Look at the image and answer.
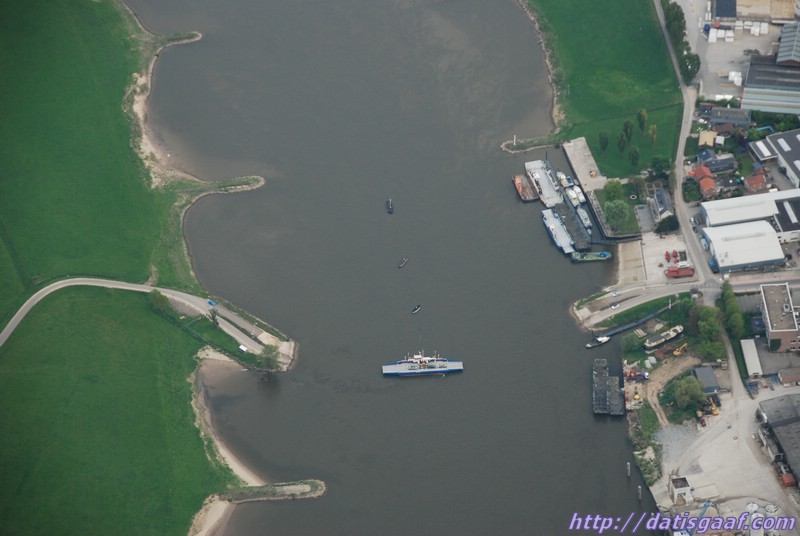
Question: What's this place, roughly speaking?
port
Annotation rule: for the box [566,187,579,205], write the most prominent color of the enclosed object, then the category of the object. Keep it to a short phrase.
white boat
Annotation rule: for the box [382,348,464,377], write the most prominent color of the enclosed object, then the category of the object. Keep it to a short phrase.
white ship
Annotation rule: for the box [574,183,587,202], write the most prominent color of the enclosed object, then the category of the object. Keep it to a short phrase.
white boat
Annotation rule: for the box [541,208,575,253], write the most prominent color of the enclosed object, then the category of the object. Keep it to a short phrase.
white ship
